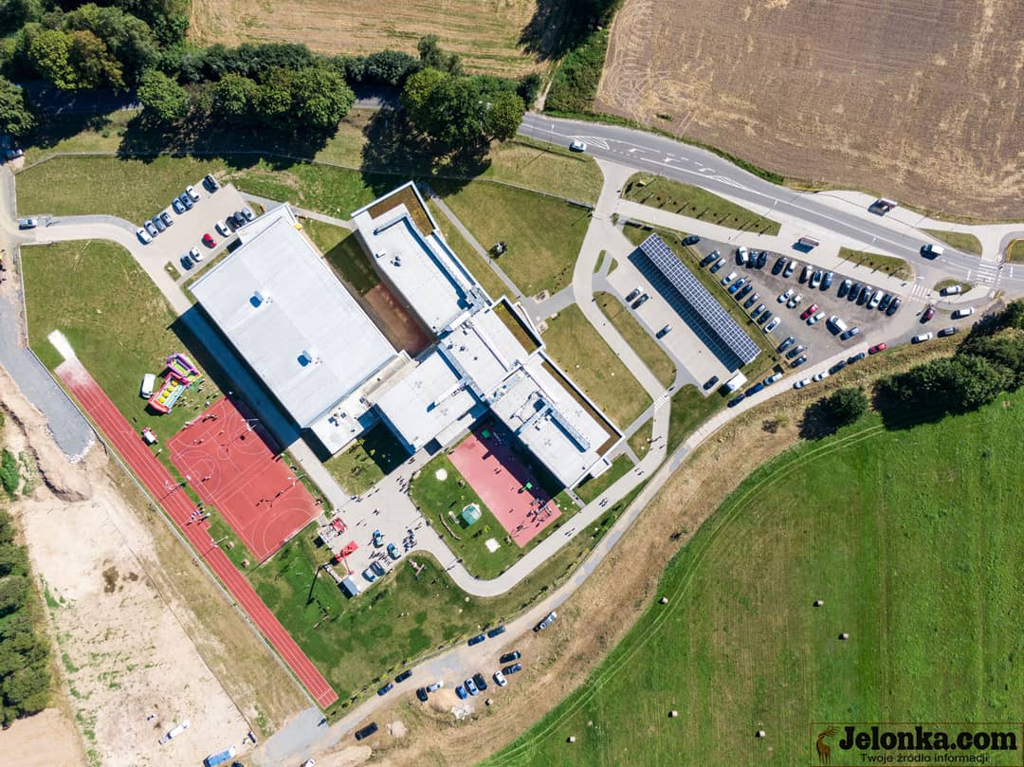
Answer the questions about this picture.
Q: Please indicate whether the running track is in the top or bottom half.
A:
bottom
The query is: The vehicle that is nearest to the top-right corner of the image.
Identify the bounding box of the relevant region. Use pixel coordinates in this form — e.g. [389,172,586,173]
[919,243,949,258]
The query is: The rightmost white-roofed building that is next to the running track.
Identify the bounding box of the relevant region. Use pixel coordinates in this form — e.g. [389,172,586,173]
[311,180,626,491]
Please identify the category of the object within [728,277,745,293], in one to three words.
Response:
car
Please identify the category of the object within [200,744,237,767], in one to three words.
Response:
truck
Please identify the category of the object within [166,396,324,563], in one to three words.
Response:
sports court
